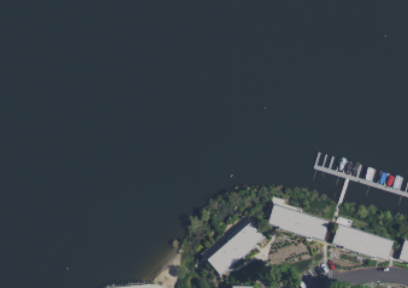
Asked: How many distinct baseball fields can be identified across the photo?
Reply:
0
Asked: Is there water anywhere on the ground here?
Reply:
Yes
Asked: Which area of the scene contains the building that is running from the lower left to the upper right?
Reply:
bottom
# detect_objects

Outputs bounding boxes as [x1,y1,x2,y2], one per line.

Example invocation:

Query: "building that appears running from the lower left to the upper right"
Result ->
[208,222,263,276]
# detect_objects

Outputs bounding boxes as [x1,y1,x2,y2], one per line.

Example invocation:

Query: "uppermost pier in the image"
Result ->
[314,152,408,196]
